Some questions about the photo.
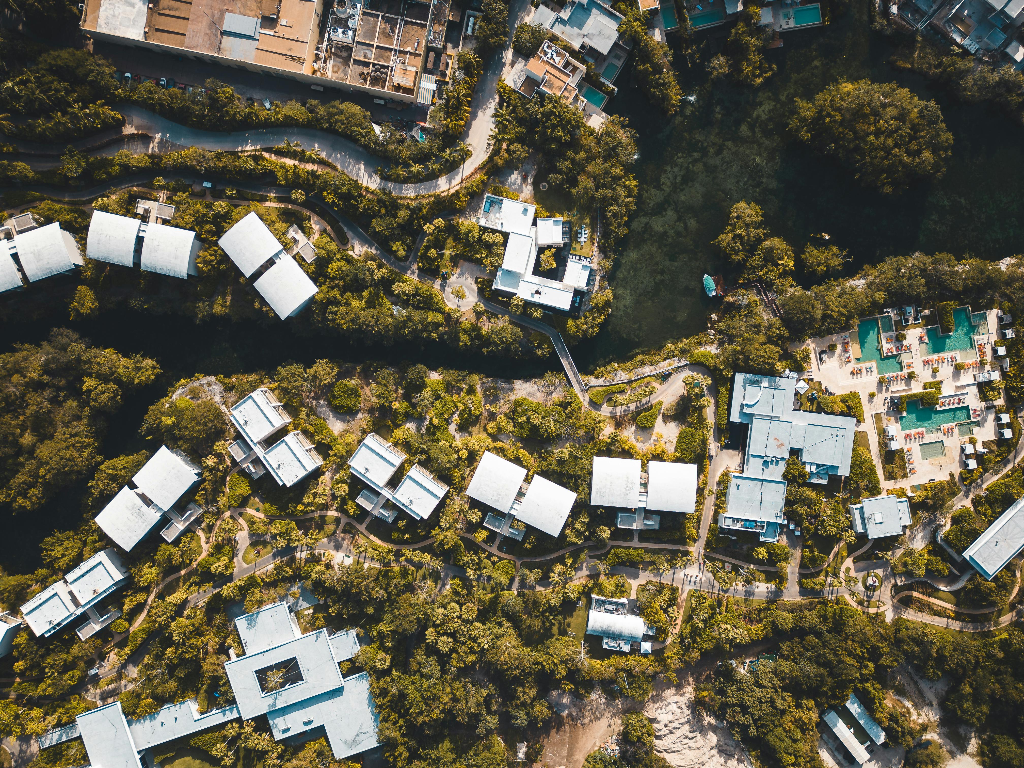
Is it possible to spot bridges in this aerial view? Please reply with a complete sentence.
Yes, I can see a bridge in this picture.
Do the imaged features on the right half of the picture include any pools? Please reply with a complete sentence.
Yes, the scene does show a pool on the right half of the picture.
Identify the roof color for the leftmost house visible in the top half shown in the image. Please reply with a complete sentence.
The roof over the leftmost house visible in the top half appears white.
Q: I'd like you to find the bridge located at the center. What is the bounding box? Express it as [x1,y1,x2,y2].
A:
[550,334,586,392]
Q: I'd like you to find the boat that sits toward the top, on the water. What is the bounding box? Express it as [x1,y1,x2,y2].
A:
[702,276,716,299]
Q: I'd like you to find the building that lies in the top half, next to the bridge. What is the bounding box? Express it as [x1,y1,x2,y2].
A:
[479,194,598,313]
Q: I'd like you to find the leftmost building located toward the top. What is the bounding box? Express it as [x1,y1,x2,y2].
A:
[0,213,83,299]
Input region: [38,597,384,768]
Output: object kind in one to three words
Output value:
building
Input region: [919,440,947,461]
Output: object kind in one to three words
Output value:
swimming pool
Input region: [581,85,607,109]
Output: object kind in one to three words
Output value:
swimming pool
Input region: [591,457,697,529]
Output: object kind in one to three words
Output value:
house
